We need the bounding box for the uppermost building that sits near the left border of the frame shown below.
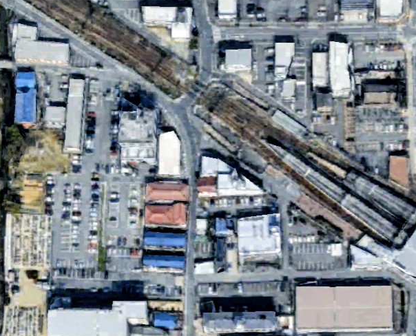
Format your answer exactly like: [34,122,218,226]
[13,24,69,64]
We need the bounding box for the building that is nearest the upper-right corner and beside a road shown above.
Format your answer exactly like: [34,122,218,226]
[380,0,402,20]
